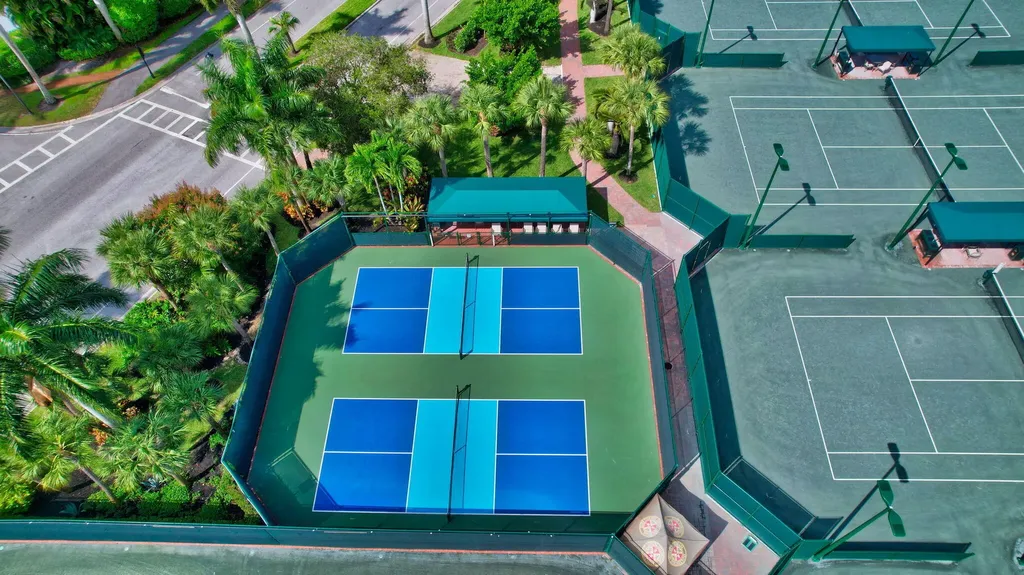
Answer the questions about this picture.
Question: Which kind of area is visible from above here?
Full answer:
This looks like a sports ground.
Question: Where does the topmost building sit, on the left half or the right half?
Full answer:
The topmost building sits on the right side.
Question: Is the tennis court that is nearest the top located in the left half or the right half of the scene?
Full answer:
You can find the tennis court that is nearest the top on the right side of the picture.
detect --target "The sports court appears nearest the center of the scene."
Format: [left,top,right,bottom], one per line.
[343,267,583,354]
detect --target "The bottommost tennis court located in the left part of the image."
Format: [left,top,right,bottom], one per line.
[0,544,627,575]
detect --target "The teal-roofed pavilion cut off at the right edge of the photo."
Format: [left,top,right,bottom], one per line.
[907,203,1024,270]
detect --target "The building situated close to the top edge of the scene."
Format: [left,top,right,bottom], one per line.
[830,26,936,81]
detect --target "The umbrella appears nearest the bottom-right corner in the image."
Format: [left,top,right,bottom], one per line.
[621,495,710,575]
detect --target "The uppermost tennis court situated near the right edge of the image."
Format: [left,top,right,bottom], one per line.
[638,0,1024,68]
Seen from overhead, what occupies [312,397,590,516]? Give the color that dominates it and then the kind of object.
blue sports court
